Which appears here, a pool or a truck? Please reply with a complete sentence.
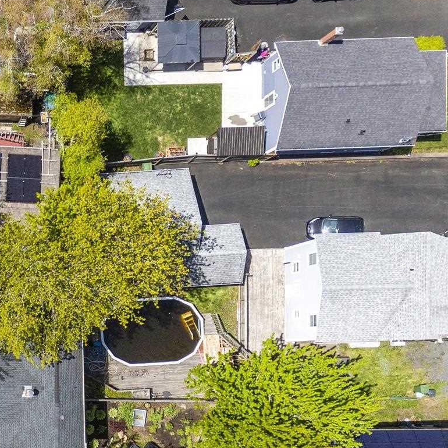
There is a pool in the scene.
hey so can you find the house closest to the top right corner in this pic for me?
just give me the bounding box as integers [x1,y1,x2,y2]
[258,22,448,157]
